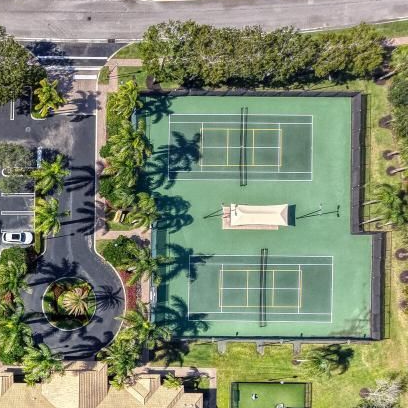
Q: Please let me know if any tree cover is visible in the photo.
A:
Yes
